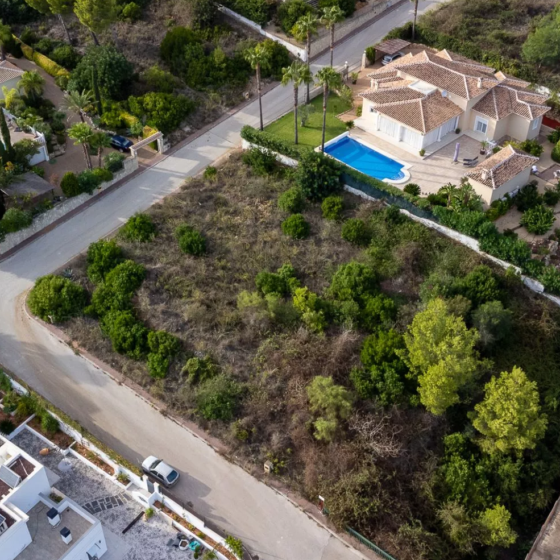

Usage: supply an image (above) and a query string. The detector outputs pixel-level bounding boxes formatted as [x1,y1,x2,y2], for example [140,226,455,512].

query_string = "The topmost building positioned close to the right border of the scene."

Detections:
[358,48,553,151]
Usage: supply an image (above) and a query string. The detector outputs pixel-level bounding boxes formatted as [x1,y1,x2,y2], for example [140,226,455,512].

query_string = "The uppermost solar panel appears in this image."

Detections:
[0,465,22,489]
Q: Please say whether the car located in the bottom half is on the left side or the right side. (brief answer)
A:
left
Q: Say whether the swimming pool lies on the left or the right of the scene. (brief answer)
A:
right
